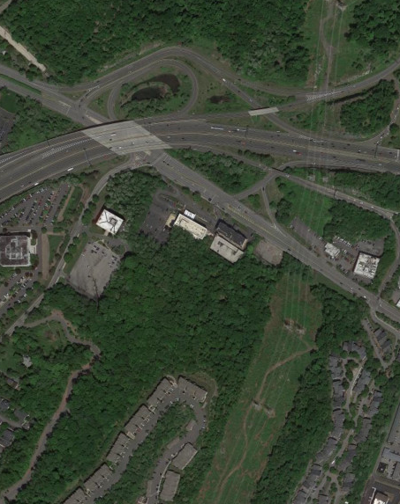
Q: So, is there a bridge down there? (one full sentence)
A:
Yes, there's a bridge here.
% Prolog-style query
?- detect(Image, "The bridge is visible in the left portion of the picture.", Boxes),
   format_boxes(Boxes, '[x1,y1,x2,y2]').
[83,120,172,154]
